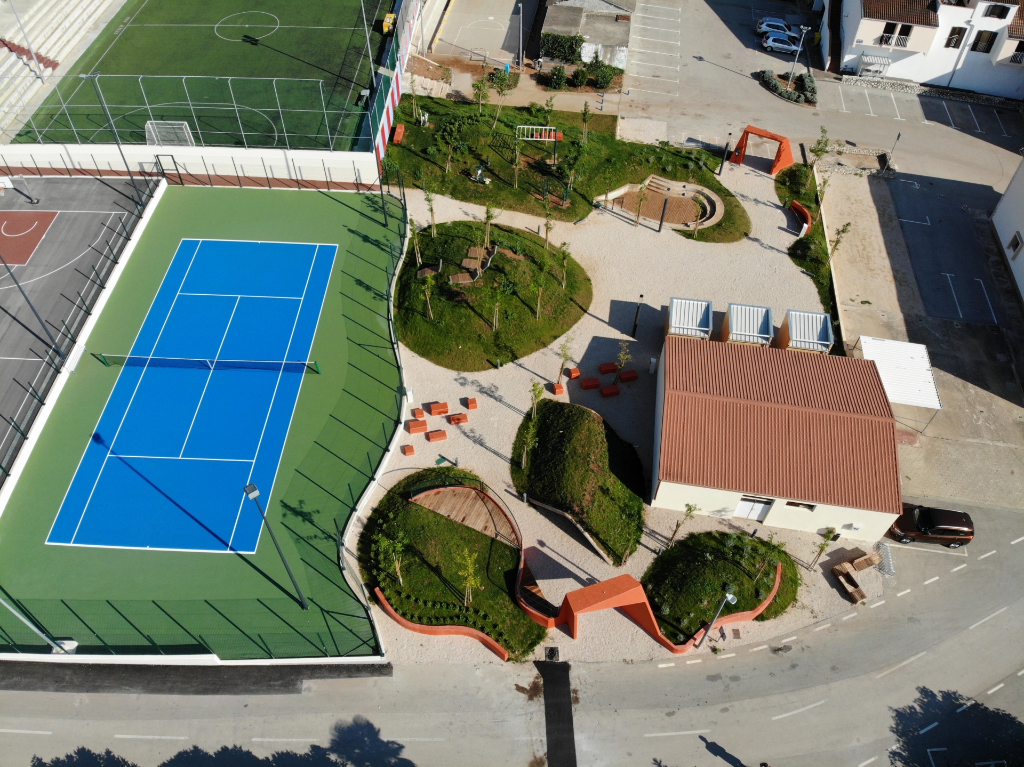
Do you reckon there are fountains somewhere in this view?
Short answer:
No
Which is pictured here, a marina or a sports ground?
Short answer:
sports ground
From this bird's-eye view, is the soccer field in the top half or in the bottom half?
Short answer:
top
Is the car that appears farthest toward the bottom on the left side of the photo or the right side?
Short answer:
right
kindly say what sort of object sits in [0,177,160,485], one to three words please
basketball court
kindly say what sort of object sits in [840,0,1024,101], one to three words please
house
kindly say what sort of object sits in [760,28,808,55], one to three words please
car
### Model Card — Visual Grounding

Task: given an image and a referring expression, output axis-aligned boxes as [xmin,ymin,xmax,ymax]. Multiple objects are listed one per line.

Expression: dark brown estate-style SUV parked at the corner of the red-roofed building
[887,501,980,551]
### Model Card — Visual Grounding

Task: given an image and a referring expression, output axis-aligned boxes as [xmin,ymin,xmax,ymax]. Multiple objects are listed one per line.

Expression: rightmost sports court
[437,0,540,65]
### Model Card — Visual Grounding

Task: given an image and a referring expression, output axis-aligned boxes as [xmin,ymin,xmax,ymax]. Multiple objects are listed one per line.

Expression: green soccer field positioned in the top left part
[13,0,388,150]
